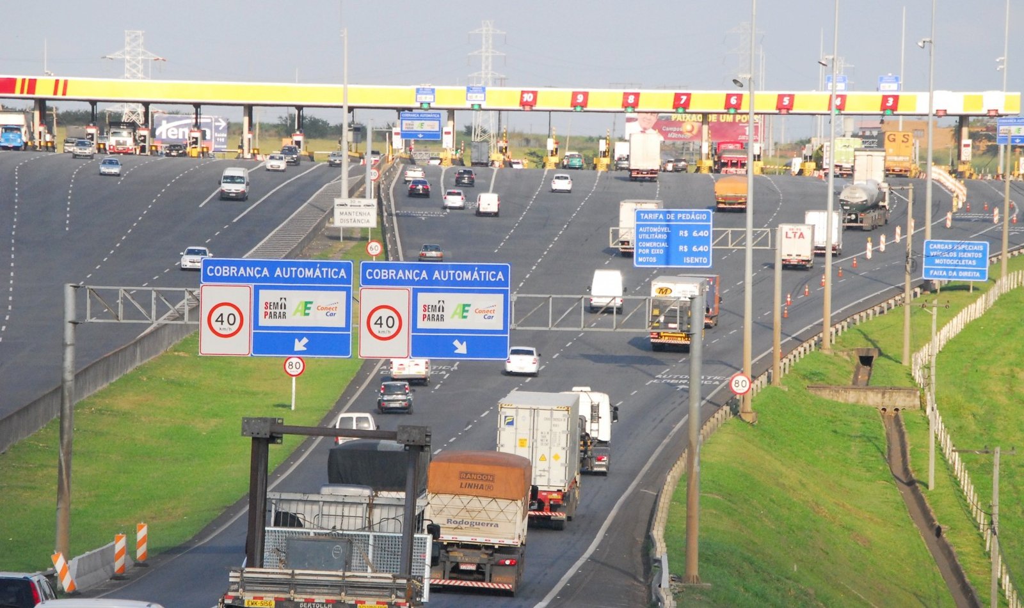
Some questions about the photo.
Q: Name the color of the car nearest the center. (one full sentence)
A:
The car nearest the center looks white in the image.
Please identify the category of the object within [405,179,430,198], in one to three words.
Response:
car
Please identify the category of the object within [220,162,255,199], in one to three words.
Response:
vehicle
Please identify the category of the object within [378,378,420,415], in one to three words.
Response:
car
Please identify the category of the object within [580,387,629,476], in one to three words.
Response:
truck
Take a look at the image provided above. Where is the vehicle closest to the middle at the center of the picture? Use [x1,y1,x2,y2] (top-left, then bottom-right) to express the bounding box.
[507,343,545,375]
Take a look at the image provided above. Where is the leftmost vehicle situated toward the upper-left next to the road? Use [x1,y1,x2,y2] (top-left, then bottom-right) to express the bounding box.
[0,117,36,155]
